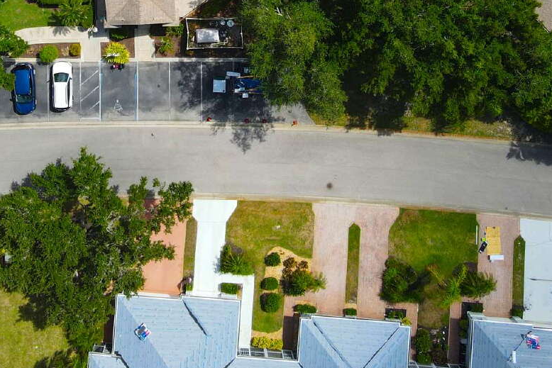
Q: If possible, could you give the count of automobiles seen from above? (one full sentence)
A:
Looking from above, you can make out 2 automobiles.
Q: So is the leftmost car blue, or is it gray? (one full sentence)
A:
From above, the leftmost car appears blue.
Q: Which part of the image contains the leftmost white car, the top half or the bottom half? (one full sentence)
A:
The top half of the photo is where the leftmost white car is.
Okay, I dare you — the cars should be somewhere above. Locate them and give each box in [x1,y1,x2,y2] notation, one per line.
[10,62,35,114]
[48,59,73,112]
